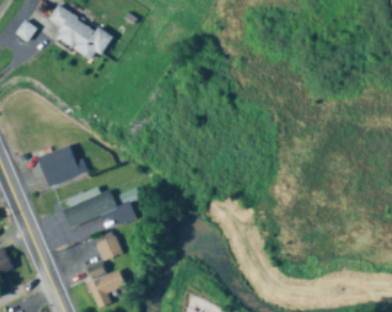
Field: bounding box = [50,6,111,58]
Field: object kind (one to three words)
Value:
house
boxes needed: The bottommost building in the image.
[87,269,126,308]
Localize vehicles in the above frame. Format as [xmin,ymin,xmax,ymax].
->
[72,273,88,282]
[24,281,39,292]
[29,158,38,169]
[88,258,100,264]
[8,306,14,312]
[103,220,116,228]
[36,41,48,50]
